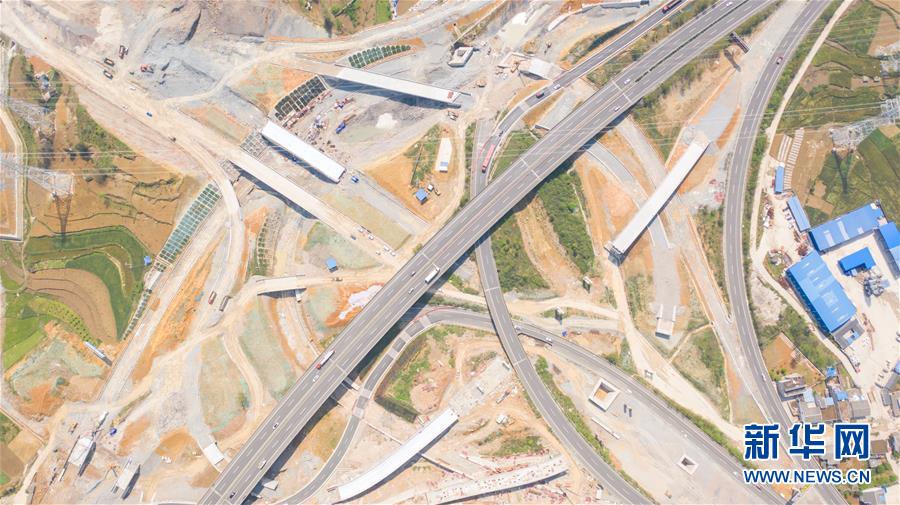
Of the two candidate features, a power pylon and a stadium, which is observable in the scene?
power pylon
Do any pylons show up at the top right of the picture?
Yes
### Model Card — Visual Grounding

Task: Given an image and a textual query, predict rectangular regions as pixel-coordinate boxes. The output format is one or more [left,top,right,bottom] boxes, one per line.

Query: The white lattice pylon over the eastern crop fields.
[831,101,900,149]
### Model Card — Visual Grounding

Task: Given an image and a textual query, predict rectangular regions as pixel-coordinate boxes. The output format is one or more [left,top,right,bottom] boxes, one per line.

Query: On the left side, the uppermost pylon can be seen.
[0,78,56,126]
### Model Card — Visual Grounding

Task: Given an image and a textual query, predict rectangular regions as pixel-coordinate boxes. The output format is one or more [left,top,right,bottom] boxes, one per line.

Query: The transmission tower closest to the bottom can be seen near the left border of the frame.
[0,150,74,194]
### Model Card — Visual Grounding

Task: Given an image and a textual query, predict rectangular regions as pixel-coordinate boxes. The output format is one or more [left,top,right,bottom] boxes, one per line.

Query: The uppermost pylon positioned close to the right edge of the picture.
[874,41,900,69]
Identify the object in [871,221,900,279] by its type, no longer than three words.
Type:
building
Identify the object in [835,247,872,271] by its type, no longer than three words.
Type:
shed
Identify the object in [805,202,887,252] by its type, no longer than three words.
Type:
building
